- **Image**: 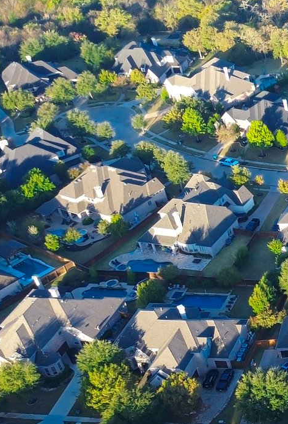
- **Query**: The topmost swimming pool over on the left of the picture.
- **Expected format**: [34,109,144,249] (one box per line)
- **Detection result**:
[50,226,91,244]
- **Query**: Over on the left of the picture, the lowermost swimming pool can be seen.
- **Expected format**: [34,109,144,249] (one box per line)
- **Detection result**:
[81,277,130,299]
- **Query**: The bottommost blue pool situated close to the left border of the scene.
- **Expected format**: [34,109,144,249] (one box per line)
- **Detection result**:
[10,257,49,280]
